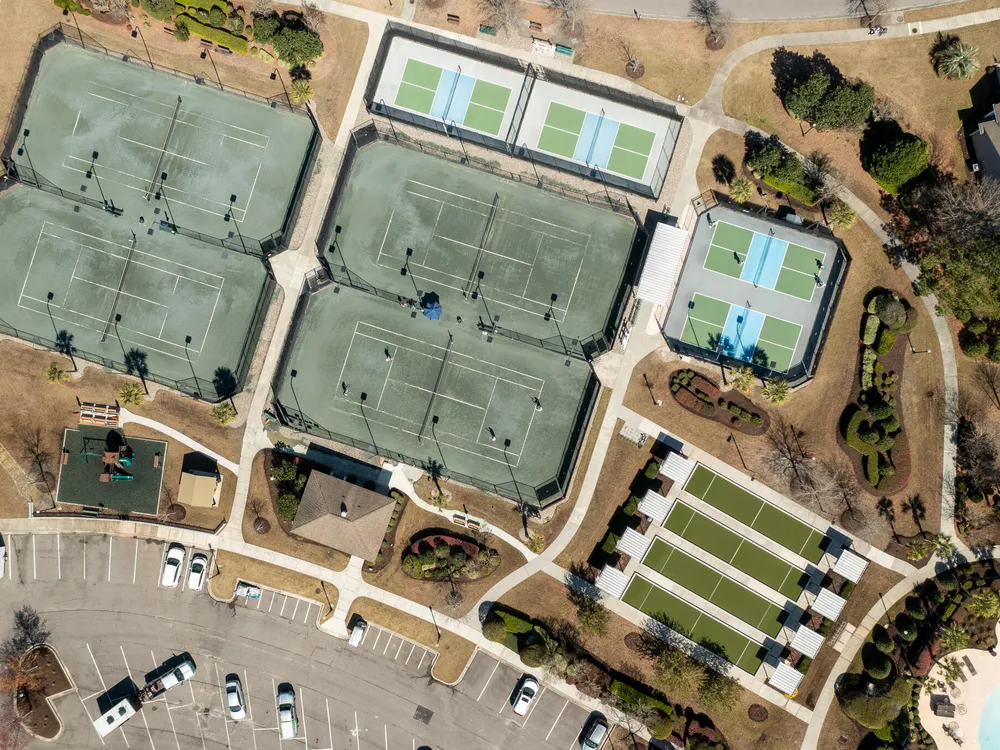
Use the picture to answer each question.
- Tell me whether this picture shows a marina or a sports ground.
sports ground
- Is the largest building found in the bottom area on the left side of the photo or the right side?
left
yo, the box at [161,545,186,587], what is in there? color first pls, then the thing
white car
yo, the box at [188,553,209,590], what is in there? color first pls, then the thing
white car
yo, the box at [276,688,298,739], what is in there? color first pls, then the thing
white truck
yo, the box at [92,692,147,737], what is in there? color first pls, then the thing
white trailer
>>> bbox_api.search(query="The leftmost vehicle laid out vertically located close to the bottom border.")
[226,678,247,718]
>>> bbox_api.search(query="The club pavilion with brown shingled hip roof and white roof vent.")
[290,470,397,561]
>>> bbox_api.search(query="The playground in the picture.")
[56,425,168,516]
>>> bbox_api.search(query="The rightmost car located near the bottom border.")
[580,717,609,750]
